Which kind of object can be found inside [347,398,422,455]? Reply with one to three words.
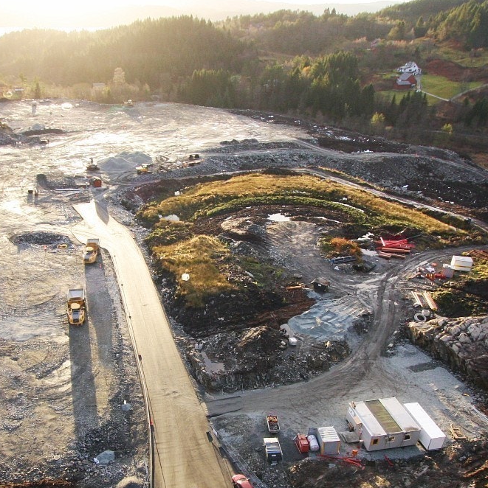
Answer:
building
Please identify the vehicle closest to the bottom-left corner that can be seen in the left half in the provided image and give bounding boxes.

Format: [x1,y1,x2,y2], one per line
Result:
[65,288,87,326]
